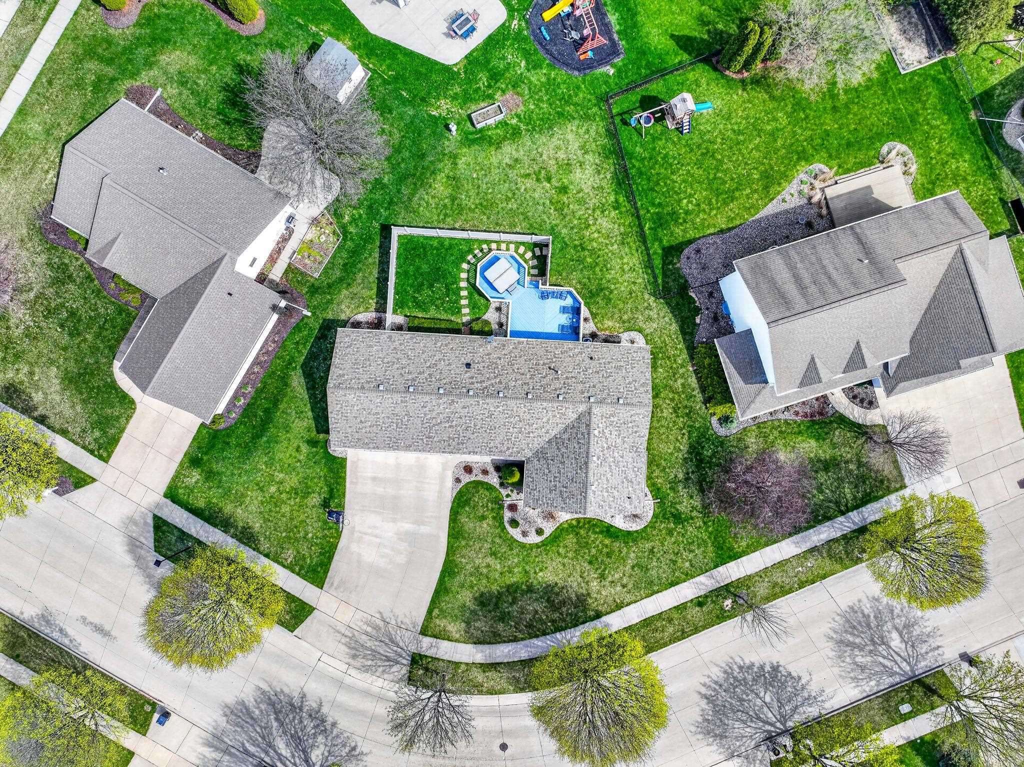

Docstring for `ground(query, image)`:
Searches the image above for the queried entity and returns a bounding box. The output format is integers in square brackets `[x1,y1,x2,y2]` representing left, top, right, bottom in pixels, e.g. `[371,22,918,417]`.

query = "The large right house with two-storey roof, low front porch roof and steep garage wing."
[711,190,1024,422]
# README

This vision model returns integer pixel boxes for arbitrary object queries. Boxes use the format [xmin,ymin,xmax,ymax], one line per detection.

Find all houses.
[327,327,653,515]
[711,190,1024,422]
[51,97,297,424]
